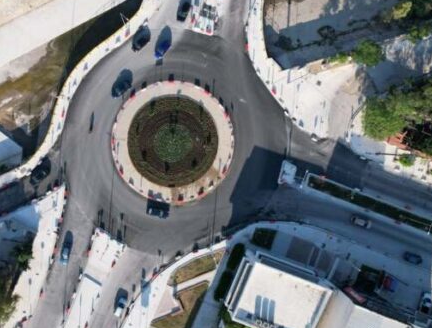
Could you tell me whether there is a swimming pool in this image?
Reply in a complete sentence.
No, the picture doesn't show any swimming pool.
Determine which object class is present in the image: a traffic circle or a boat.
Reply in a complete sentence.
Of the two, only a traffic circle appears.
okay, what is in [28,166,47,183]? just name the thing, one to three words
car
